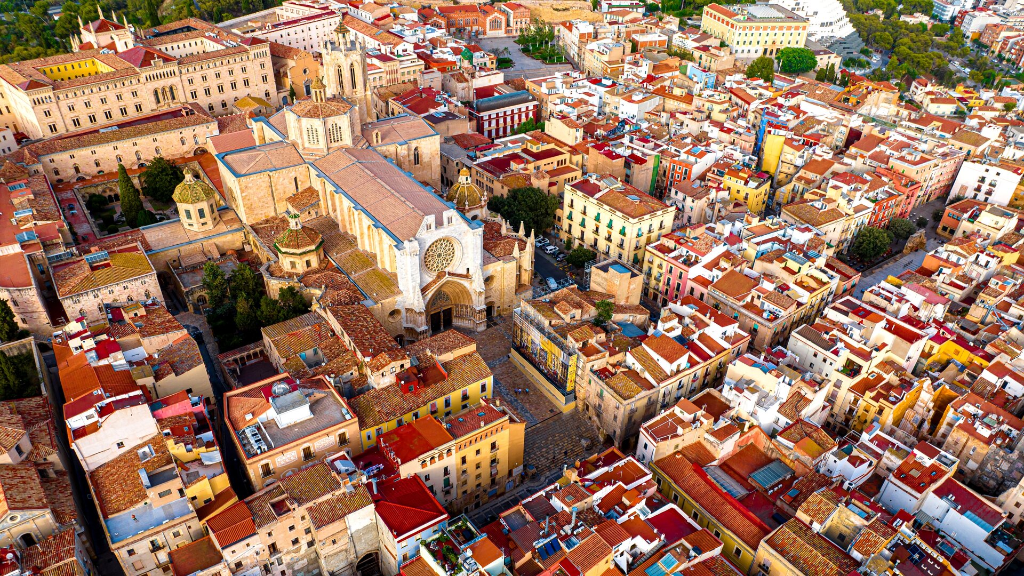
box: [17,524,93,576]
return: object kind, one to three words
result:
house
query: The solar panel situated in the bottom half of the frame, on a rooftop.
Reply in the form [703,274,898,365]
[905,545,930,568]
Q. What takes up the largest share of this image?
buildings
